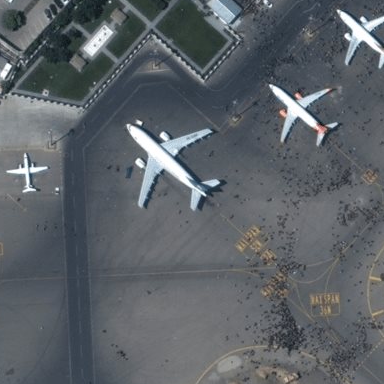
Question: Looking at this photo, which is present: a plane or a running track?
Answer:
plane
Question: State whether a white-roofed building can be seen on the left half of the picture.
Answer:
Yes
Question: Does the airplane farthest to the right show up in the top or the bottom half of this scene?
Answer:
top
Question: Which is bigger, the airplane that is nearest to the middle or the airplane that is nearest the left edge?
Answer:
the airplane that is nearest to the middle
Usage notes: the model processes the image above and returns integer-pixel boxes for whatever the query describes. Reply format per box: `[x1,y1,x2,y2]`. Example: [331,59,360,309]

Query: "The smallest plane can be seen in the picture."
[4,153,49,194]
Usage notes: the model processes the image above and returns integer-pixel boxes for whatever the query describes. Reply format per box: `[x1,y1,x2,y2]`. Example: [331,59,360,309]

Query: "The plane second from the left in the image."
[127,124,220,210]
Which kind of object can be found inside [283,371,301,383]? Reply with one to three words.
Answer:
vehicle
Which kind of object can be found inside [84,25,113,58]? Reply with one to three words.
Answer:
building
